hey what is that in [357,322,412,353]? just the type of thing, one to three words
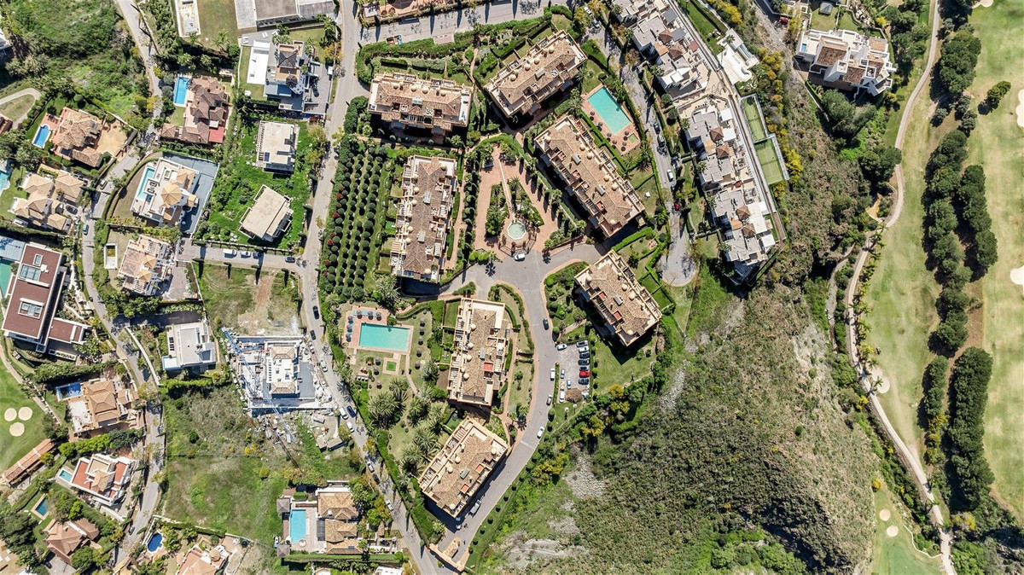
swimming pool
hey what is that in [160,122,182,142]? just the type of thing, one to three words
shed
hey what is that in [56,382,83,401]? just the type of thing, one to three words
swimming pool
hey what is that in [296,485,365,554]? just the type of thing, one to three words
house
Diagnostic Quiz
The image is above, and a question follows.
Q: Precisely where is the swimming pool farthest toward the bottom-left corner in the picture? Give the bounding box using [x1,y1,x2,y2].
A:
[32,496,54,519]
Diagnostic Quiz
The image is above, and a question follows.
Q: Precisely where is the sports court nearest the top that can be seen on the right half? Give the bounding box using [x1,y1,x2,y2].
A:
[741,95,769,143]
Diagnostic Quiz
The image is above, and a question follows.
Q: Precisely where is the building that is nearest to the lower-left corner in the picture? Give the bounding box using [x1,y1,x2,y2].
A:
[45,514,106,565]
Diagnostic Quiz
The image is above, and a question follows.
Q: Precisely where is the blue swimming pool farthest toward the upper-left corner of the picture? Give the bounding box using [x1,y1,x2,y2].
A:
[34,123,51,145]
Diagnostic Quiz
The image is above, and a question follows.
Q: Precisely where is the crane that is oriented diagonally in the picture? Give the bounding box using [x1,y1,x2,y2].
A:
[221,327,296,437]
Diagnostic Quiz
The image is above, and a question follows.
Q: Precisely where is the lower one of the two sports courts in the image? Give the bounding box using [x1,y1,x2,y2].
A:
[753,134,789,185]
